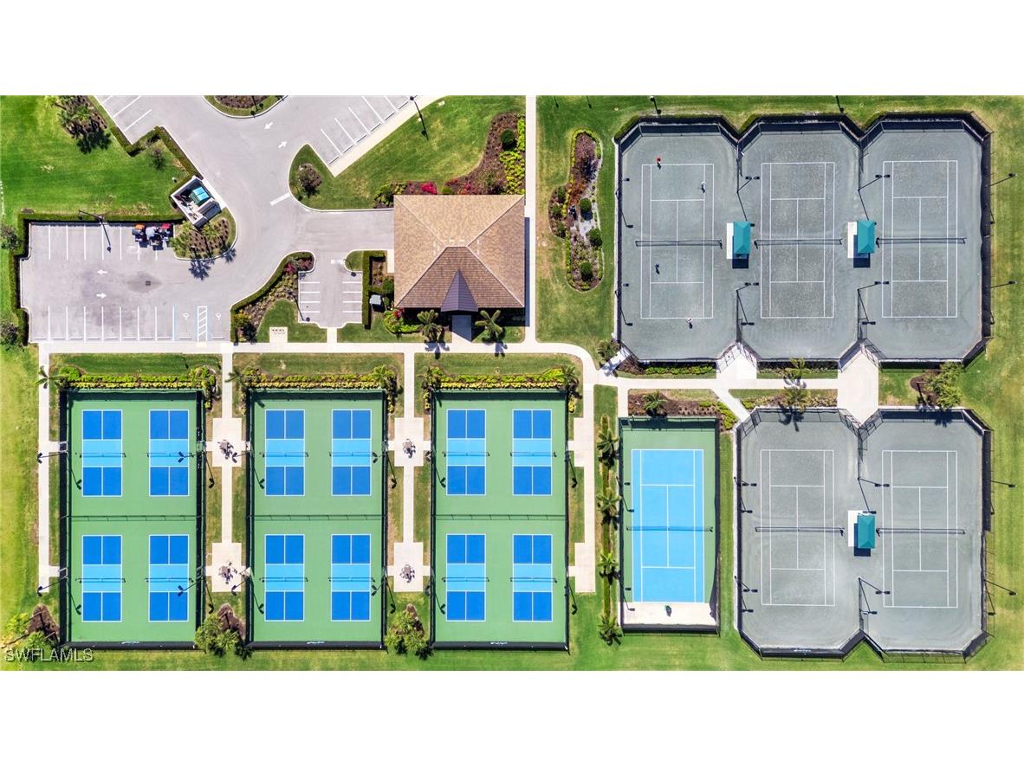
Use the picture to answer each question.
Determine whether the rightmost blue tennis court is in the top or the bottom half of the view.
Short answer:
bottom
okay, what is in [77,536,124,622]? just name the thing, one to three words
sports court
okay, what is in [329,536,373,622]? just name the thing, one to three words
sports court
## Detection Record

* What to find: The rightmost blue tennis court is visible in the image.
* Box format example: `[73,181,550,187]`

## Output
[618,416,716,625]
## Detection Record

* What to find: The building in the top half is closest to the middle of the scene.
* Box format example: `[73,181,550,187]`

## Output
[394,194,524,314]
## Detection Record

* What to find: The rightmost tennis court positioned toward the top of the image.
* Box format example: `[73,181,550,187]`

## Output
[859,120,982,359]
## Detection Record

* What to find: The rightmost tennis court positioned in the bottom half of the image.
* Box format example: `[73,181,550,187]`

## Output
[859,410,983,650]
